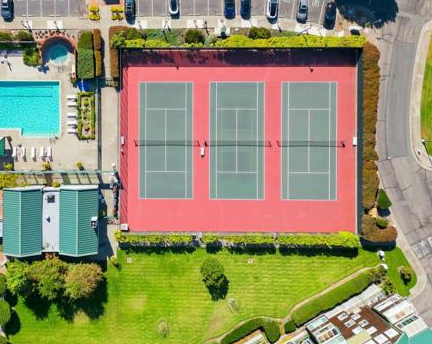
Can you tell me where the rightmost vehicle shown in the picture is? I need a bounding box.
[323,1,338,27]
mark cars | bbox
[124,0,136,18]
[266,0,278,18]
[0,0,12,18]
[323,1,338,27]
[297,0,309,21]
[240,0,251,16]
[224,0,236,16]
[168,0,178,14]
